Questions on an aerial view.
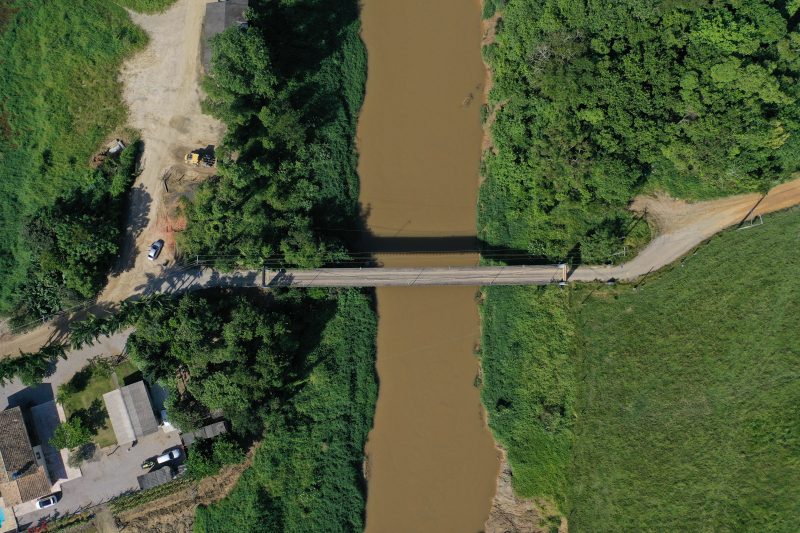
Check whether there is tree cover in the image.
Yes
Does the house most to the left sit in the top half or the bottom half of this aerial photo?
bottom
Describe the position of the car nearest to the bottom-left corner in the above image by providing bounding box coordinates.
[34,497,56,511]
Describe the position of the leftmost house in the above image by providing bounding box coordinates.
[0,402,59,509]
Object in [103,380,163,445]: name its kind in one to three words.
barn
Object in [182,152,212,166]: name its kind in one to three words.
vehicle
